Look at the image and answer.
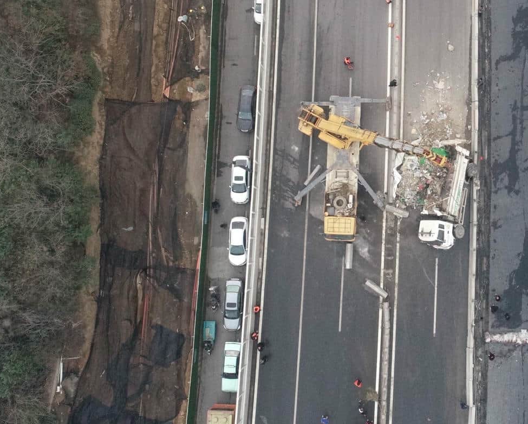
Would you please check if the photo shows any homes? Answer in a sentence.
No, the frame has no home in it.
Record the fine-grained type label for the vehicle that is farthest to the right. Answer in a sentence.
What you see as the vehicle that is farthest to the right is a truck.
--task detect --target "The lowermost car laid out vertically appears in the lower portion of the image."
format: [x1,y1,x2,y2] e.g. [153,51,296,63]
[216,342,240,396]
